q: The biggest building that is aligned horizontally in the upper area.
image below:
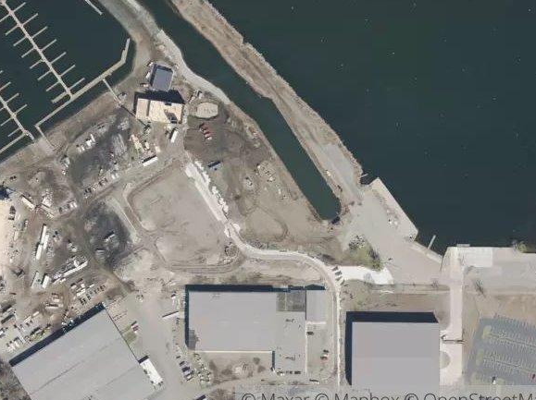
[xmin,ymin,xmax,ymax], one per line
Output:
[137,99,184,124]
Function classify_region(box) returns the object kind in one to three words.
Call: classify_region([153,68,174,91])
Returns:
building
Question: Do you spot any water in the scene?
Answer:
Yes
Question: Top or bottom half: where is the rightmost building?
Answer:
bottom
